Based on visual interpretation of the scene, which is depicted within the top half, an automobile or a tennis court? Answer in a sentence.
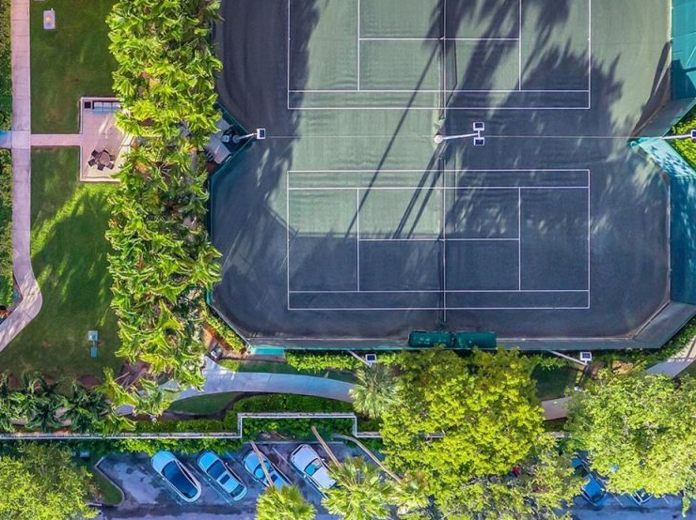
You can see a tennis court within the top half.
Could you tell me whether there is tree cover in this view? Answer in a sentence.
Yes, some tree cover is visible.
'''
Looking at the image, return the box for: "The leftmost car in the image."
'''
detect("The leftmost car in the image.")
[148,453,205,506]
